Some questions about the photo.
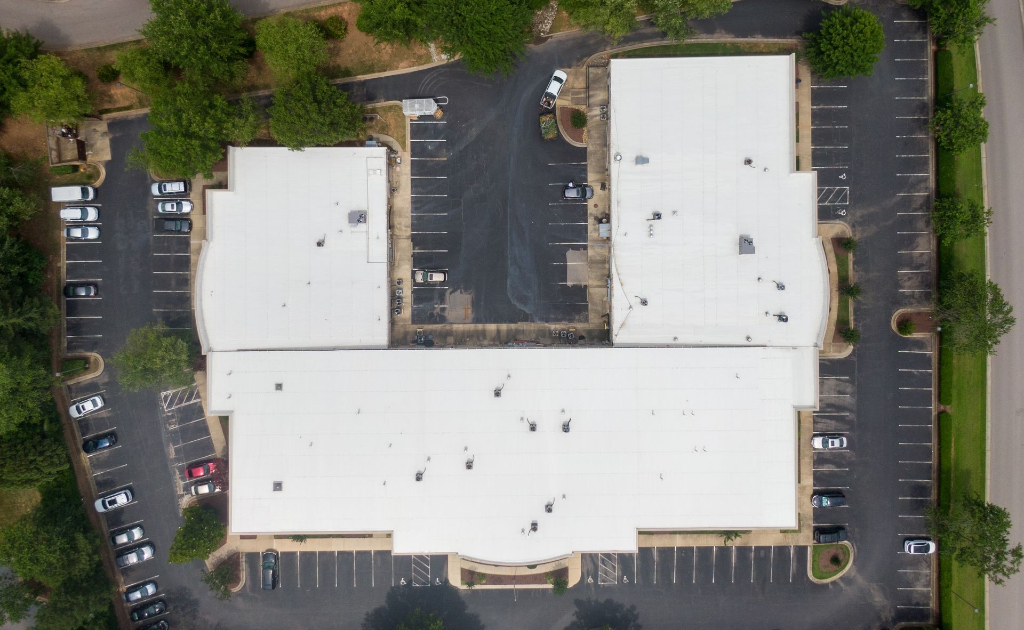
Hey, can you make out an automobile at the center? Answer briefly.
Yes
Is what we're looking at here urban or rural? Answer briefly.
urban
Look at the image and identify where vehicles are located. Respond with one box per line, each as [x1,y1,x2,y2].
[810,435,847,450]
[152,180,192,196]
[64,282,100,298]
[190,479,227,495]
[69,395,107,417]
[94,489,135,512]
[109,524,147,545]
[114,543,158,568]
[129,600,169,622]
[122,580,160,603]
[158,198,195,214]
[47,185,96,202]
[810,492,847,509]
[813,527,846,544]
[64,225,102,240]
[563,180,593,200]
[903,539,935,555]
[184,460,222,479]
[261,549,278,589]
[415,268,448,284]
[82,432,119,453]
[153,217,194,234]
[539,69,564,109]
[58,206,100,222]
